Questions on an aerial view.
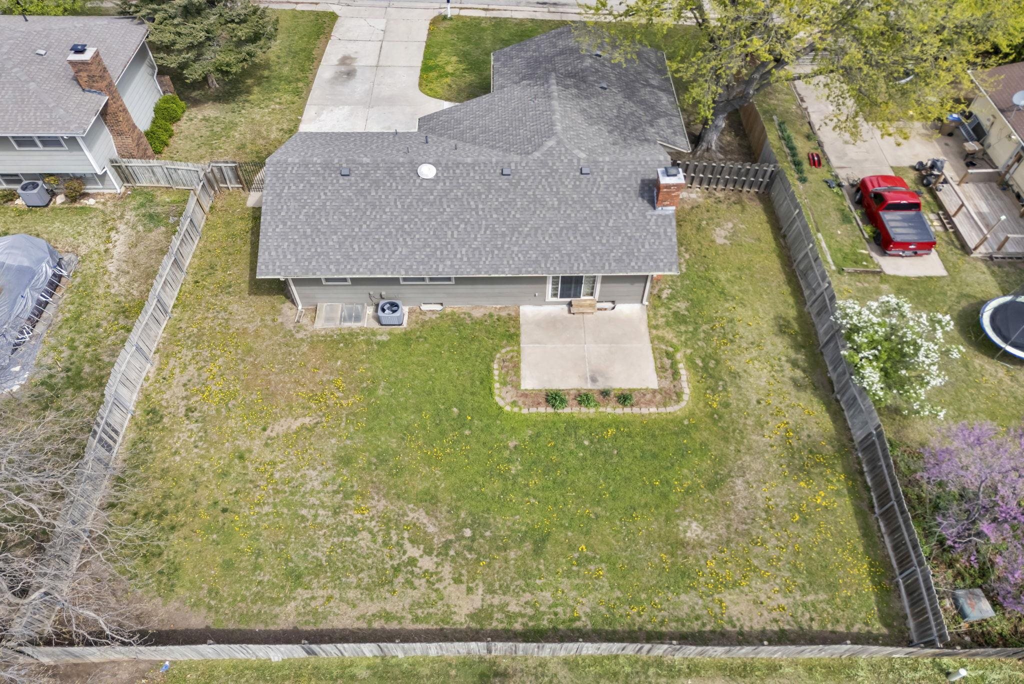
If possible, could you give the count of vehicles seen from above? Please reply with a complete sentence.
The photo contains 2 vehicles.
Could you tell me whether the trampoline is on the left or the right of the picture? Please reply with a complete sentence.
The trampoline sits on the right side.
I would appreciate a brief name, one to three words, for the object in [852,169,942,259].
truck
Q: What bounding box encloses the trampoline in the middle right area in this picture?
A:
[973,267,1024,377]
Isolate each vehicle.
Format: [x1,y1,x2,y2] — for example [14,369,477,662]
[852,169,942,259]
[912,150,958,188]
